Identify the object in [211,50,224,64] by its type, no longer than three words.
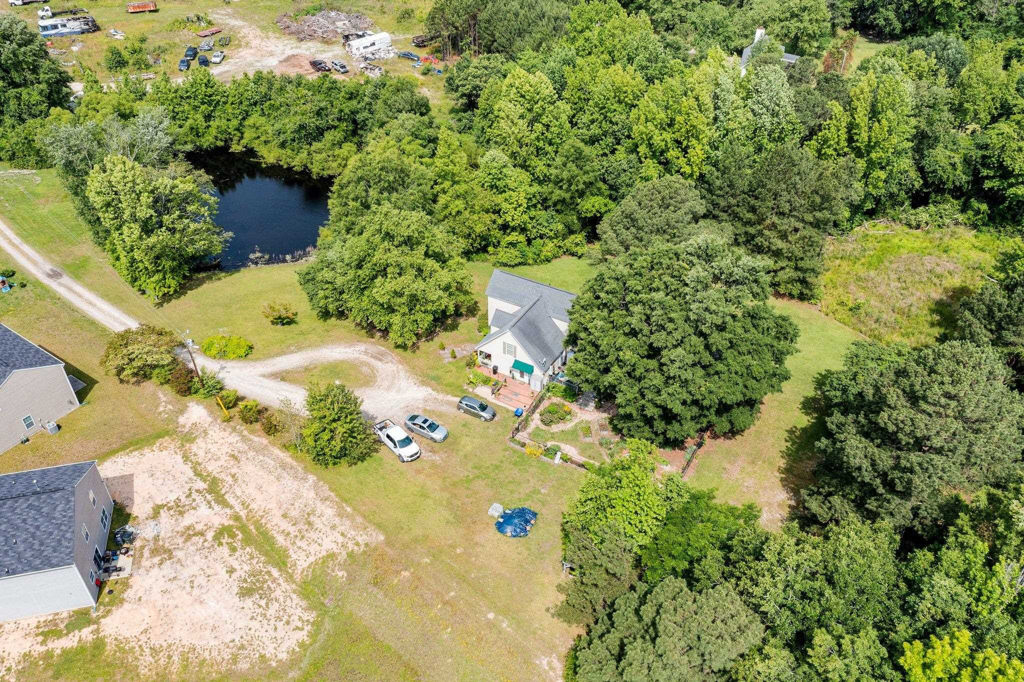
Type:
vehicle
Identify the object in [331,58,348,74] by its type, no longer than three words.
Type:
car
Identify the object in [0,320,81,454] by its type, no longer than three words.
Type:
house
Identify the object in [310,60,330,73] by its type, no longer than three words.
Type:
vehicle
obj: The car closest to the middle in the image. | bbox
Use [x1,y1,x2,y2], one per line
[455,391,498,420]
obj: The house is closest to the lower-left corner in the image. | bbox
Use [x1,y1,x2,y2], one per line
[0,460,114,624]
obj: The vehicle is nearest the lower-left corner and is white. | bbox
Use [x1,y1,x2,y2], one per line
[375,415,424,462]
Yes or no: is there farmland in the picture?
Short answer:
No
